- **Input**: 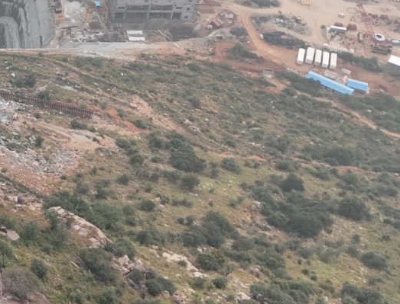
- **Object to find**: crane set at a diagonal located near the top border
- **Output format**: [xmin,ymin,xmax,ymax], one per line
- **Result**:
[352,4,399,54]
